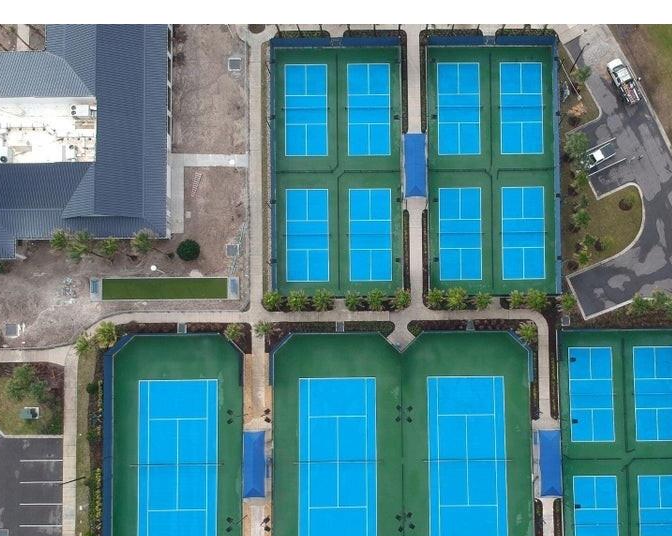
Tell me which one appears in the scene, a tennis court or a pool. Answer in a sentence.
Visible in the photo is a tennis court.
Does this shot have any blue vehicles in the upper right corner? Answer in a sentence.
No, the scene shows no blue vehicle in the upper right corner.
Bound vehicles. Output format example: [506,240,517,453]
[576,141,619,171]
[609,62,645,105]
